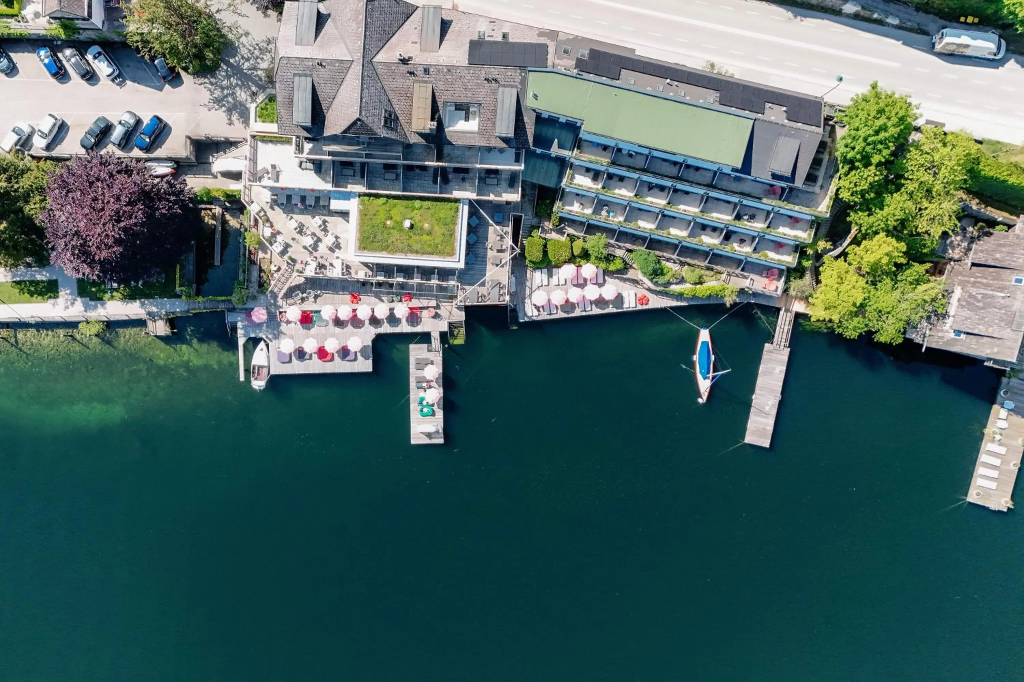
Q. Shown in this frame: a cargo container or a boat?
boat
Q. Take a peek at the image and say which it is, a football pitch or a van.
van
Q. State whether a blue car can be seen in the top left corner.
Yes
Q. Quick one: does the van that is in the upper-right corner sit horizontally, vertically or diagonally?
horizontally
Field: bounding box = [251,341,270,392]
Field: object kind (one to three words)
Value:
boat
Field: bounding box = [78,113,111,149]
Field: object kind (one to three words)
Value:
car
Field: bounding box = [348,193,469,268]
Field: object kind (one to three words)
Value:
building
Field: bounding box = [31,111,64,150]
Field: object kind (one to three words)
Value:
car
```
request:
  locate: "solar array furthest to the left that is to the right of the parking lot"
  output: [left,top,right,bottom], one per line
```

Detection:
[468,39,547,67]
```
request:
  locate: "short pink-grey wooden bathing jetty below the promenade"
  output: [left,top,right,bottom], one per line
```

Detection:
[145,319,174,336]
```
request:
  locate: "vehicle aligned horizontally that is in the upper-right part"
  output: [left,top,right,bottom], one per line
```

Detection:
[925,24,1002,62]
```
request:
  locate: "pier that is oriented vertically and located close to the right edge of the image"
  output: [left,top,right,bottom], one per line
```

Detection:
[966,377,1024,511]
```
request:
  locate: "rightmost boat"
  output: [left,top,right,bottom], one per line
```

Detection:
[693,328,731,403]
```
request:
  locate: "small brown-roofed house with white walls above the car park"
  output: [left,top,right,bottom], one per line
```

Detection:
[42,0,116,33]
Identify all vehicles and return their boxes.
[78,113,111,149]
[925,24,1002,62]
[84,45,122,84]
[108,111,141,149]
[31,111,64,150]
[150,56,178,87]
[34,45,68,82]
[61,45,95,84]
[0,117,35,154]
[132,113,167,153]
